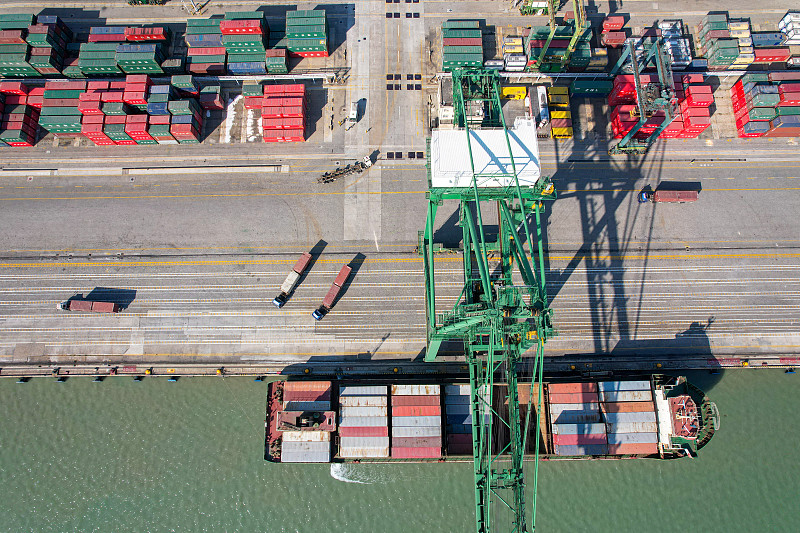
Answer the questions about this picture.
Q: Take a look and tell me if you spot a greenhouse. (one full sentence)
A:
No, I find no greenhouse anywhere in the image.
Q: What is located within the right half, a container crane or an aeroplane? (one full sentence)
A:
Visible within the right half is a container crane.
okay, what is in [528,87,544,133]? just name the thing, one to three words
vehicle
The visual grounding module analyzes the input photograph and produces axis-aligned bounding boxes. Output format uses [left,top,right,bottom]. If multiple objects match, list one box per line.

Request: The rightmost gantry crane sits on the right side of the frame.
[603,32,688,154]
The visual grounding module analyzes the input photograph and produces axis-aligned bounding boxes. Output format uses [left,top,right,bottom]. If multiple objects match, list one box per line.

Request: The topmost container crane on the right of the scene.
[524,0,587,73]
